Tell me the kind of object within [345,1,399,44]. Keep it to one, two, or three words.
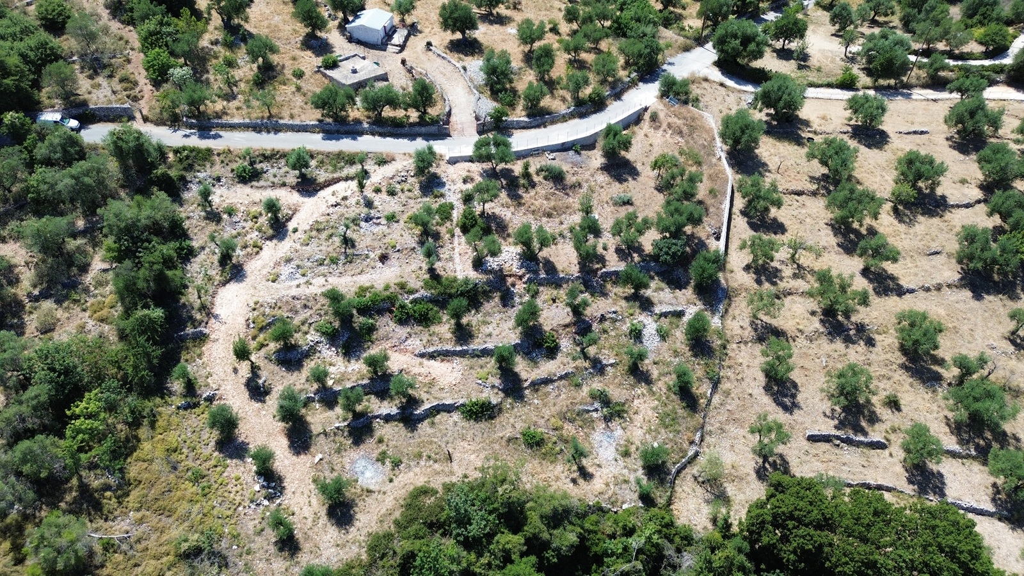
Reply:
shed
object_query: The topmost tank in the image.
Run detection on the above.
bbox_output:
[319,55,388,90]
